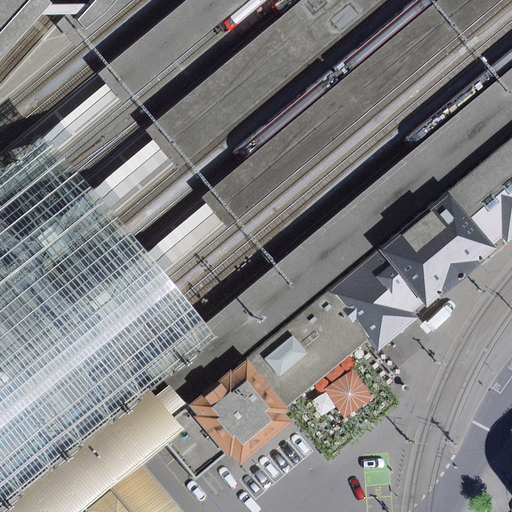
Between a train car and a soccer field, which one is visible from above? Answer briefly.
train car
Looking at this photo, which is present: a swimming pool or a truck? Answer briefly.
truck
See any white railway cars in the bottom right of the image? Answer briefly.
No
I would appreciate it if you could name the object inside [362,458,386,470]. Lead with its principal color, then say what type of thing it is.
white vehicle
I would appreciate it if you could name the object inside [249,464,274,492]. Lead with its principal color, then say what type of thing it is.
gray car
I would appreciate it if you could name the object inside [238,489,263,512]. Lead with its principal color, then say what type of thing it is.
white car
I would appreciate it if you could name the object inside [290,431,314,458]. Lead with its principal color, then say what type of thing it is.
white car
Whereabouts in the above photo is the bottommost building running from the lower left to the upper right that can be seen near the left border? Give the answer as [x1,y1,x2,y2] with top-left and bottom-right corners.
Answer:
[10,393,184,512]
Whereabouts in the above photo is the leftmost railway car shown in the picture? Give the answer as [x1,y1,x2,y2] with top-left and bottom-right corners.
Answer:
[212,0,270,39]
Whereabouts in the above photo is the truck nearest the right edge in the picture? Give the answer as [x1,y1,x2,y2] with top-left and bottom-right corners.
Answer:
[418,298,459,336]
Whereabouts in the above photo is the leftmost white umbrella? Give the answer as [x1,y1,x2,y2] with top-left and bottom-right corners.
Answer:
[313,393,336,415]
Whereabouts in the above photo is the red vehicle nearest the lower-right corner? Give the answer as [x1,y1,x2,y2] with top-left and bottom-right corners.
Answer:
[348,476,366,502]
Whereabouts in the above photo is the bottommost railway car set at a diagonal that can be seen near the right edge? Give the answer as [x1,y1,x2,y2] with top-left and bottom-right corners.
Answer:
[408,72,495,146]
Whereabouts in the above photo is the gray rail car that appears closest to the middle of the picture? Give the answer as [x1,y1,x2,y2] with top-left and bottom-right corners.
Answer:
[236,66,345,160]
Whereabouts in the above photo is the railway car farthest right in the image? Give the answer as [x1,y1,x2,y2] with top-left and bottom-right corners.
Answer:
[491,49,512,78]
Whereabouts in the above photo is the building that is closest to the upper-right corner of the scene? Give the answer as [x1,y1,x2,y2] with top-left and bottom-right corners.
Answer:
[448,138,512,247]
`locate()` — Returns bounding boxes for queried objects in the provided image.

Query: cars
[216,466,239,491]
[362,458,386,470]
[242,473,264,498]
[238,489,263,512]
[278,439,303,466]
[249,464,274,492]
[185,478,208,504]
[290,431,314,458]
[348,476,366,502]
[258,454,282,480]
[269,448,294,476]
